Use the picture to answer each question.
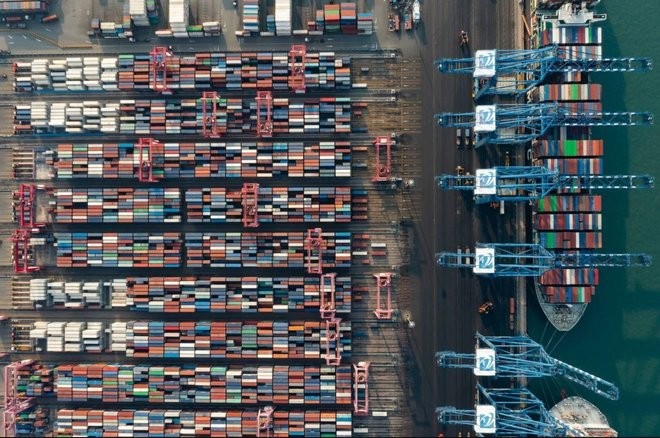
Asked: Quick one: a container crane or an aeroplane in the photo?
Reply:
container crane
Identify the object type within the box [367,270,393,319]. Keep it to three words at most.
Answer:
container crane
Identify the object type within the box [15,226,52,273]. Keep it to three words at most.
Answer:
container crane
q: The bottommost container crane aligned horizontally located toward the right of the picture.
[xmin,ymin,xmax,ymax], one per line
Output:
[436,374,600,438]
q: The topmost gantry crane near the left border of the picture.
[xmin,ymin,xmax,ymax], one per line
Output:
[21,182,57,228]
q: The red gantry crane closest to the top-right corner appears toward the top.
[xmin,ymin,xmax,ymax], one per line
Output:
[367,135,393,184]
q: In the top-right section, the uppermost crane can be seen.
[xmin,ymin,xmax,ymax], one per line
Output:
[436,41,652,102]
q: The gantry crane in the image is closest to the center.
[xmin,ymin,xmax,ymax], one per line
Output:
[302,226,328,273]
